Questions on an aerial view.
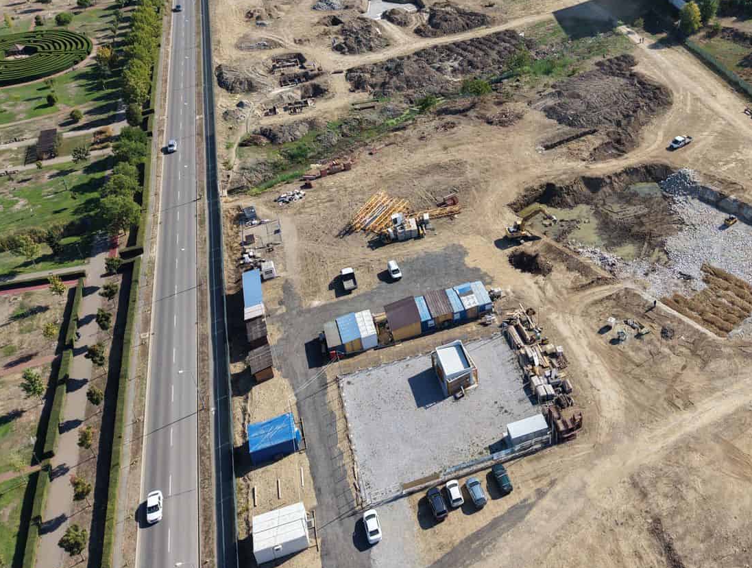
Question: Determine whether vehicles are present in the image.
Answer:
Yes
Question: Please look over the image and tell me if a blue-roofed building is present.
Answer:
Yes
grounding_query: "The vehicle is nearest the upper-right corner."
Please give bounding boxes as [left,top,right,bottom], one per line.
[667,132,695,149]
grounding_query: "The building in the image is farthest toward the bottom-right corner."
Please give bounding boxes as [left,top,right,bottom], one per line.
[435,341,479,399]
